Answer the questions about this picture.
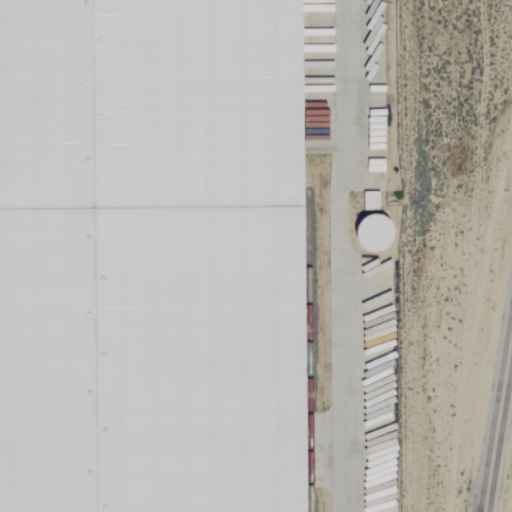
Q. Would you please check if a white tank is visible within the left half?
No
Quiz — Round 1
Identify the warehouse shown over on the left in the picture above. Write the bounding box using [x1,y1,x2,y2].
[0,0,309,512]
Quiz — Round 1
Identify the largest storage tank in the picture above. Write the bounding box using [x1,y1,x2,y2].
[357,214,396,253]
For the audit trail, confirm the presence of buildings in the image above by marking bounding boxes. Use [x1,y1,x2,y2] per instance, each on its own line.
[366,192,382,209]
[0,0,309,512]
